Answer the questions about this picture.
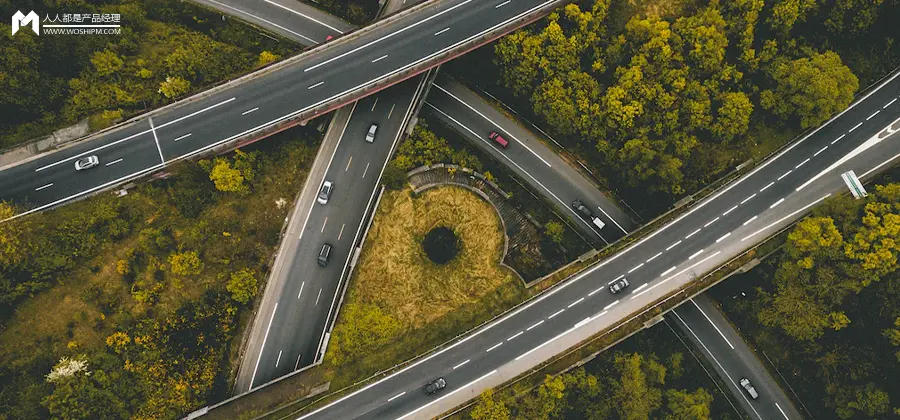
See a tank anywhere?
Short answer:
No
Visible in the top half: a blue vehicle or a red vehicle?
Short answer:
red vehicle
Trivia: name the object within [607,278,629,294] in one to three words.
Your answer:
car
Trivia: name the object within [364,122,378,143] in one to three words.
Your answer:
car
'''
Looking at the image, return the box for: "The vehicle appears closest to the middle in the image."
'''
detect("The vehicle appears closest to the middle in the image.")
[488,131,510,148]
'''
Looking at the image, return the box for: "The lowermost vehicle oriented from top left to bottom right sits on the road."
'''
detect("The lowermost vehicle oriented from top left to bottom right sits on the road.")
[739,377,758,399]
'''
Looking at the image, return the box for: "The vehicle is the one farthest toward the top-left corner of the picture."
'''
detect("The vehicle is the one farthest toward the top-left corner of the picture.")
[76,155,101,170]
